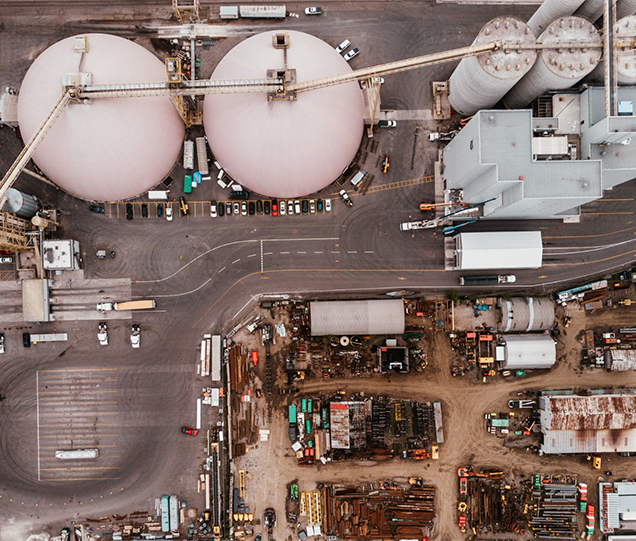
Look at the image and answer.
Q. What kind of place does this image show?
industrial area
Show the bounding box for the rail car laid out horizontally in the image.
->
[240,8,288,21]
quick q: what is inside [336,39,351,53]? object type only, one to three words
vehicle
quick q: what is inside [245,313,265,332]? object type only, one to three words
vehicle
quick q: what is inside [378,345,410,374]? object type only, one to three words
shed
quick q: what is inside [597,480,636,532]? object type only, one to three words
building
